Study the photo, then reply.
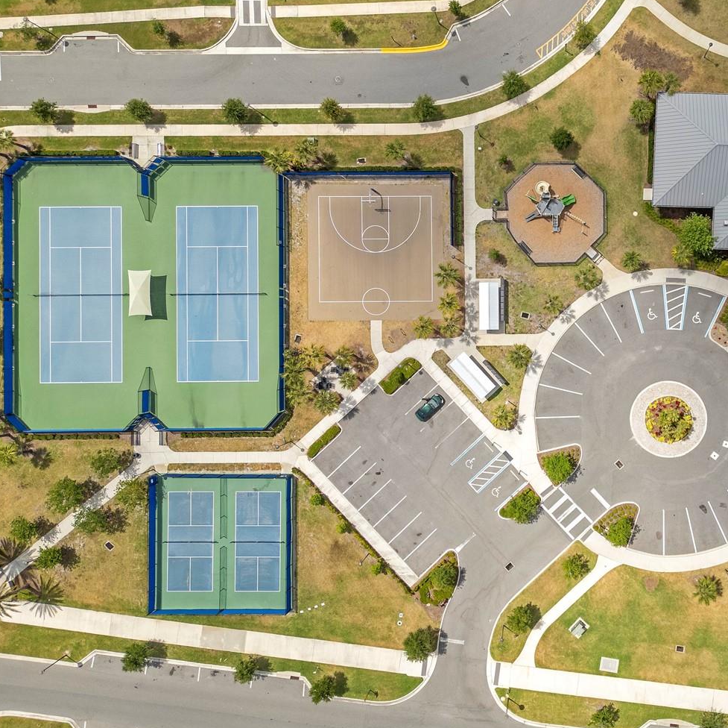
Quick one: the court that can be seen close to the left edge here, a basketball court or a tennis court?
tennis court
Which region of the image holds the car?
center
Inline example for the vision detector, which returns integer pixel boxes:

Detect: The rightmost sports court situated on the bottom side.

[229,492,285,592]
